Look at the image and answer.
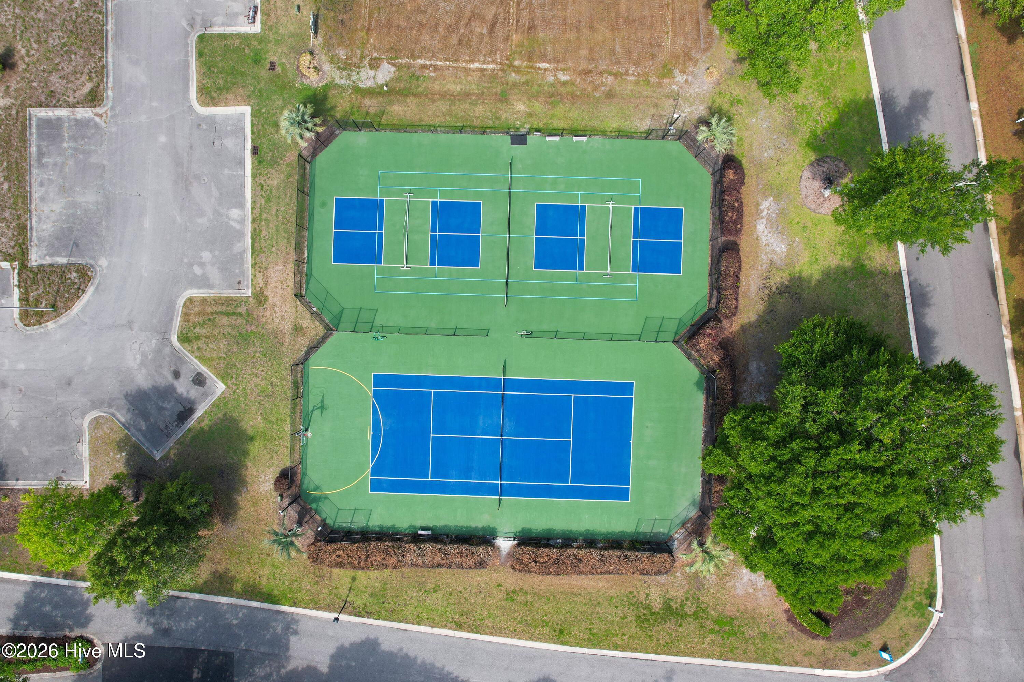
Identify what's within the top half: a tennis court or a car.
tennis court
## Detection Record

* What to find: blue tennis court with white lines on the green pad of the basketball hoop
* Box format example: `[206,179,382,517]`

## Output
[300,332,704,541]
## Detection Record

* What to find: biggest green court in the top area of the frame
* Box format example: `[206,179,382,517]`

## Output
[305,131,711,341]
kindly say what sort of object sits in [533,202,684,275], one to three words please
sports court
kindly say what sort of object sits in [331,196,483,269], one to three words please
sports court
